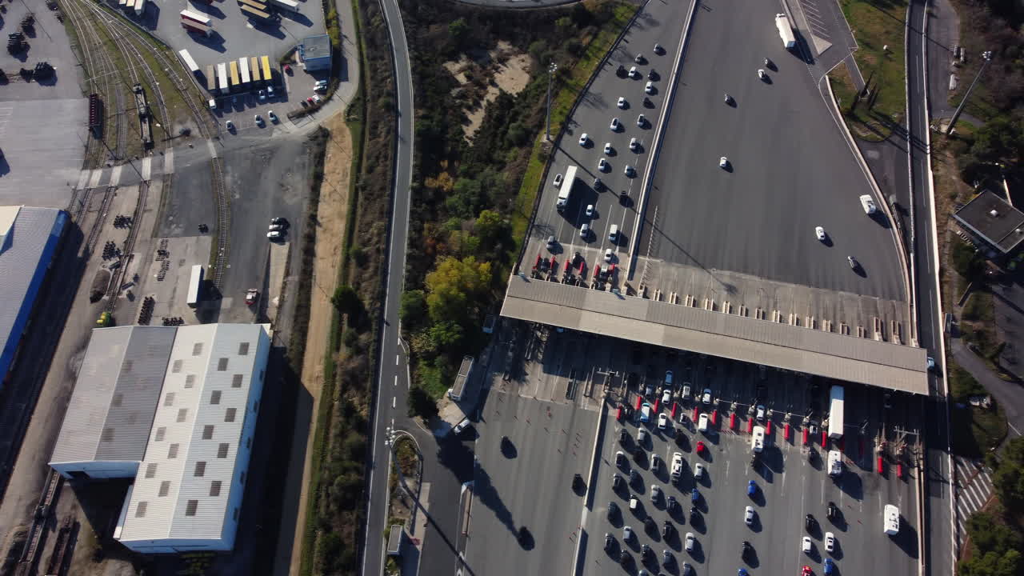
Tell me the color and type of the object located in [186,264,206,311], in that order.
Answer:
white trailer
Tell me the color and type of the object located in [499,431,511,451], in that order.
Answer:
black vehicle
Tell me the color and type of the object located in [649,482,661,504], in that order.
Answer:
gray vehicle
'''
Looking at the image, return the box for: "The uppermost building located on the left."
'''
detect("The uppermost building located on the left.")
[297,35,331,67]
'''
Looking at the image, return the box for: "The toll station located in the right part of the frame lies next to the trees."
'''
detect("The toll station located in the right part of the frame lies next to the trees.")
[497,0,909,327]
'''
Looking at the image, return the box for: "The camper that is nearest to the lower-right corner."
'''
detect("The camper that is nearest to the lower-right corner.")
[885,505,900,537]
